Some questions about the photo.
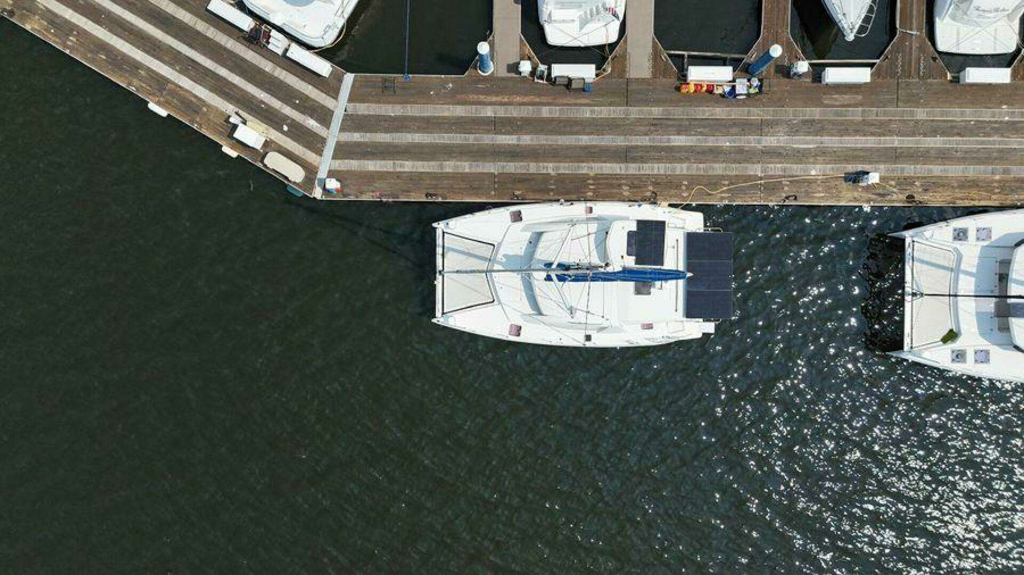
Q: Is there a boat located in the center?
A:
Yes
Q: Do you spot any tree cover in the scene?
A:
No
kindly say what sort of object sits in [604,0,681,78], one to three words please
pier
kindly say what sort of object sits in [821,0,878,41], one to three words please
boat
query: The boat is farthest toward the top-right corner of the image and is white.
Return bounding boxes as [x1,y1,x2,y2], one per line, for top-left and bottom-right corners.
[921,0,1021,55]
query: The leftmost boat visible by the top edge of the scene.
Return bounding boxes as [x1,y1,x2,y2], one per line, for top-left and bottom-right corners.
[245,0,360,48]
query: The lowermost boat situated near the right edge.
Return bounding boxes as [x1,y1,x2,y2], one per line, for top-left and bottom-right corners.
[891,209,1024,381]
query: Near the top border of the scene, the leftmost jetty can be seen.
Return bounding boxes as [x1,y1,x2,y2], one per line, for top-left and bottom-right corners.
[0,0,344,197]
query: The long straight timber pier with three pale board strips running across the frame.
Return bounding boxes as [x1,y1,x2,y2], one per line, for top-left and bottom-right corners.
[324,73,1024,207]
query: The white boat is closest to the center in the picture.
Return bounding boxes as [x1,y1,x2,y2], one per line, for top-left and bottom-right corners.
[432,201,734,347]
